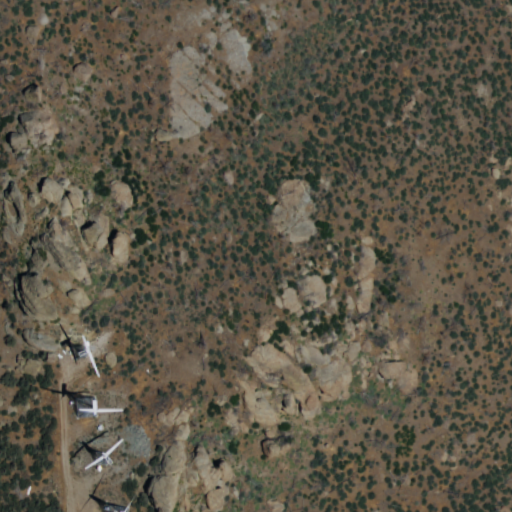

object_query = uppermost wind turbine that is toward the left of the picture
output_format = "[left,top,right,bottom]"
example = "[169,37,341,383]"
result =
[76,331,99,372]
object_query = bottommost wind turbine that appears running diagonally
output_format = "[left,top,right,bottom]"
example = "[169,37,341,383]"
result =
[85,439,124,470]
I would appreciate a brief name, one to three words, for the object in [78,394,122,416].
wind turbine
